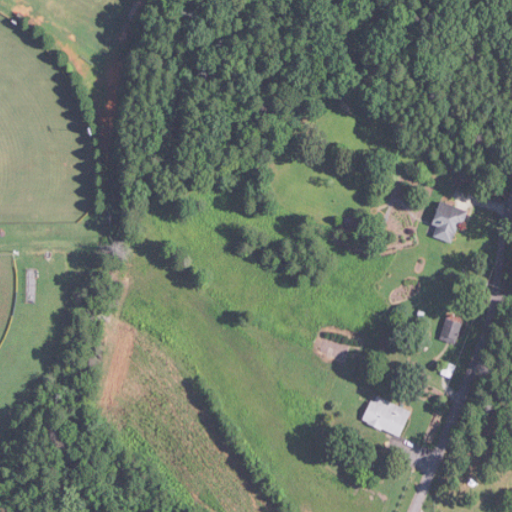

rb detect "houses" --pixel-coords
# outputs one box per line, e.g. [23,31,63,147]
[431,202,466,242]
[440,316,462,344]
[362,400,411,438]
